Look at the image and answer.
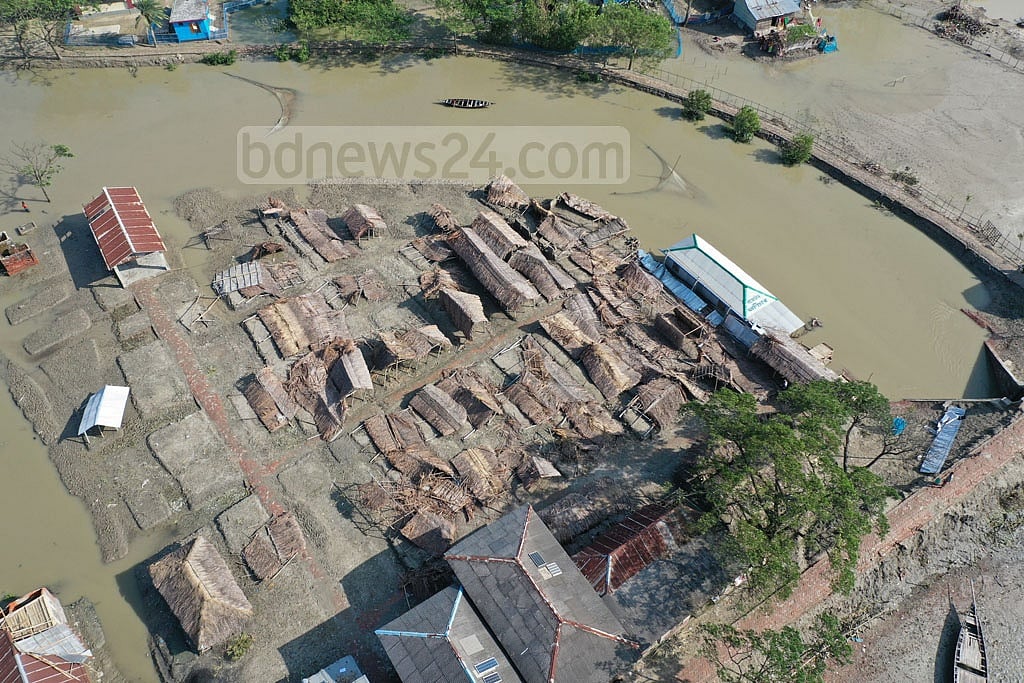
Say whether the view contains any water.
Yes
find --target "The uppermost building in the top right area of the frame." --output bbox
[727,0,801,37]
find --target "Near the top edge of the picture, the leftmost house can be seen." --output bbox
[170,0,214,43]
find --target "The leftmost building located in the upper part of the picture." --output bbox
[82,186,170,288]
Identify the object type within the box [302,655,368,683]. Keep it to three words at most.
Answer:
shed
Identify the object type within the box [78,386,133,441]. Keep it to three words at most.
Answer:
shed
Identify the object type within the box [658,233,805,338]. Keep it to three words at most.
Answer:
building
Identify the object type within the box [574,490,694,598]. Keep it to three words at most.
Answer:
house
